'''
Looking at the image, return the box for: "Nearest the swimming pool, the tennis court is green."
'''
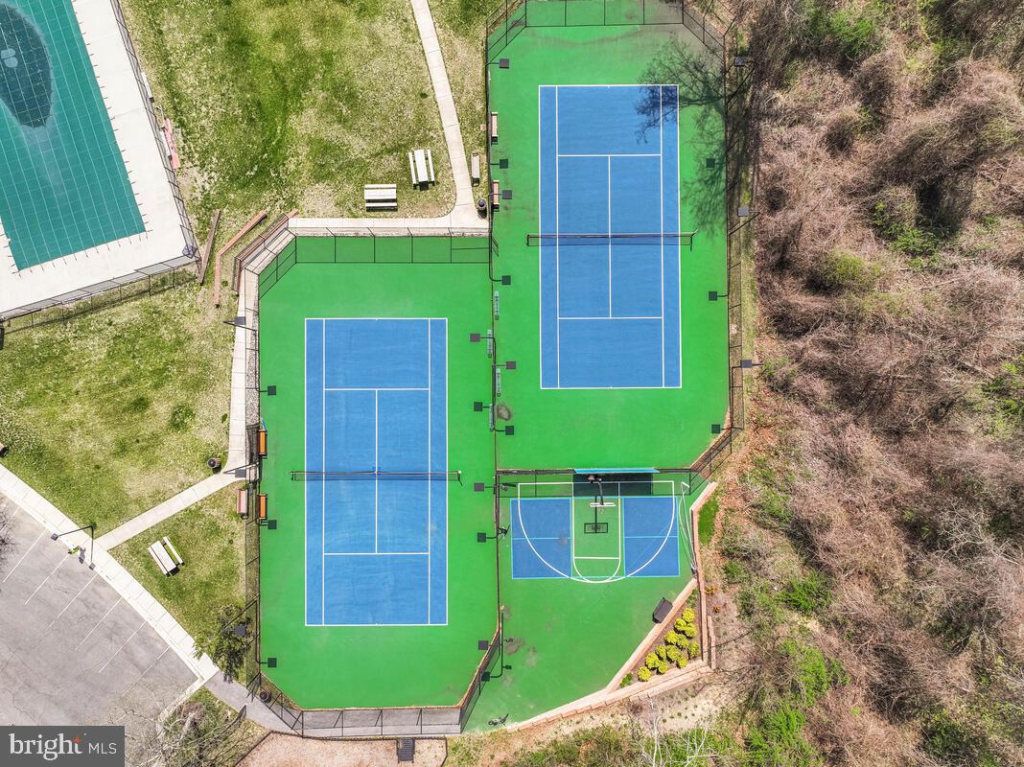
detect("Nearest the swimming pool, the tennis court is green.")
[259,236,499,712]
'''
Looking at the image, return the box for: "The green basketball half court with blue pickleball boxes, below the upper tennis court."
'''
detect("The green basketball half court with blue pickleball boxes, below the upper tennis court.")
[460,469,712,734]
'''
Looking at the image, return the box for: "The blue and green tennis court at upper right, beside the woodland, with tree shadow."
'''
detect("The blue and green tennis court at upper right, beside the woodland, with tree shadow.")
[489,0,733,471]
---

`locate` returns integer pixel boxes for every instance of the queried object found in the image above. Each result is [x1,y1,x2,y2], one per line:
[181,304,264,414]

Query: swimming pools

[0,0,149,273]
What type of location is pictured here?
sports ground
